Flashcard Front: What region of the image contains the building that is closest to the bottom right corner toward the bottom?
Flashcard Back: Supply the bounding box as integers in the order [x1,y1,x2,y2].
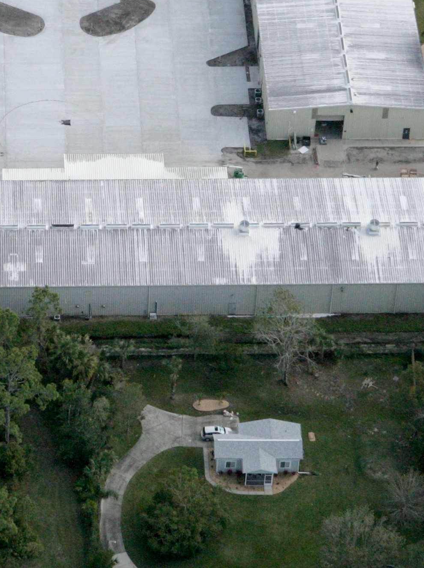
[213,417,312,486]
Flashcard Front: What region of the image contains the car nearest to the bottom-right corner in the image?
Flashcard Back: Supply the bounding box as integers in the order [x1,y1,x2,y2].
[199,423,236,443]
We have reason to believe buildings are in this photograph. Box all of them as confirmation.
[0,176,424,318]
[251,0,424,140]
[213,417,312,486]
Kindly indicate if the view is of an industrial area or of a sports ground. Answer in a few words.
industrial area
